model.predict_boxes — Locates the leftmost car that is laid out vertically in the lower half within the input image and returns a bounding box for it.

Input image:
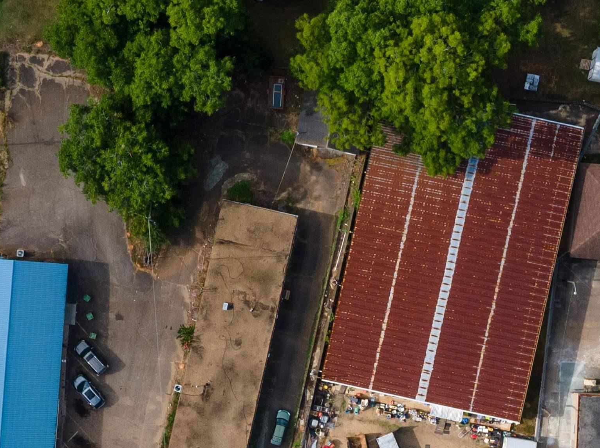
[270,408,291,447]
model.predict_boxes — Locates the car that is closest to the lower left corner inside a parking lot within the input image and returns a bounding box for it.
[73,374,107,409]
